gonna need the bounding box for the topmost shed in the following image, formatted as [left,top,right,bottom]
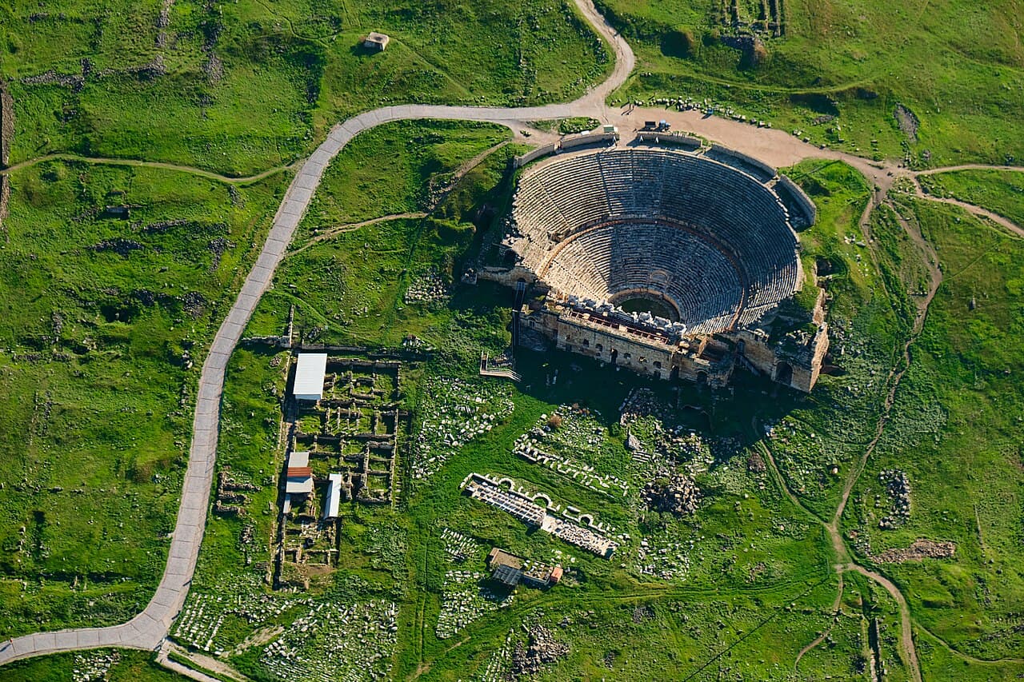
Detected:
[365,32,389,51]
